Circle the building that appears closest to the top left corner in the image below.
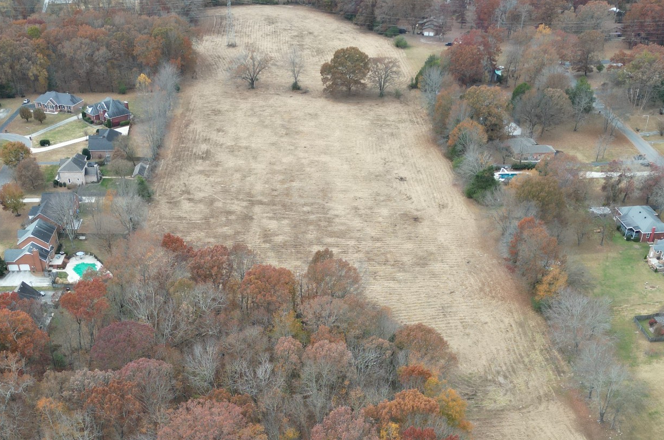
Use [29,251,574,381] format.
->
[31,90,84,111]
